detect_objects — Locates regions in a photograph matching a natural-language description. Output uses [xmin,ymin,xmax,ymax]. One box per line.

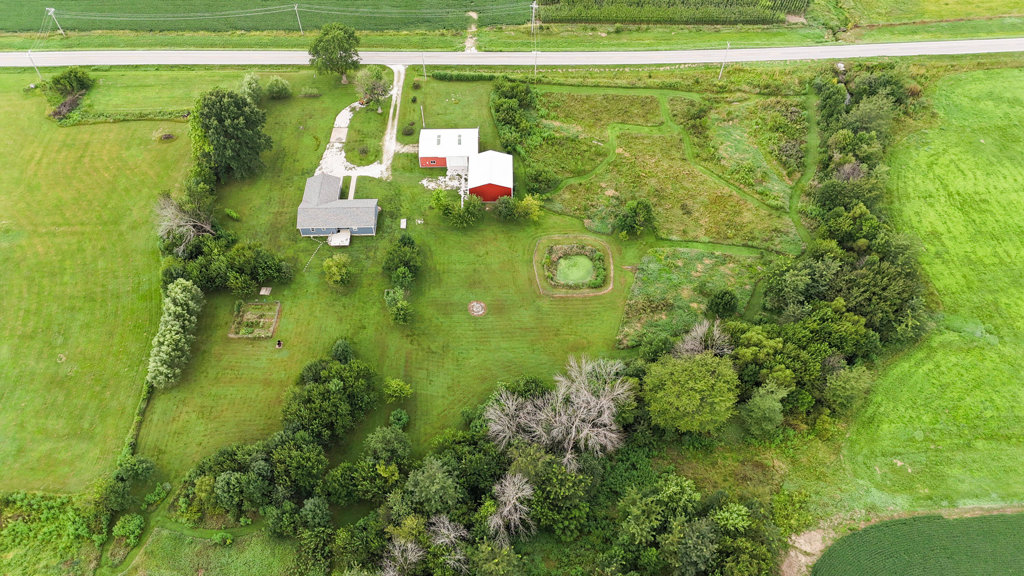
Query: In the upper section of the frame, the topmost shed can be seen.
[418,127,478,167]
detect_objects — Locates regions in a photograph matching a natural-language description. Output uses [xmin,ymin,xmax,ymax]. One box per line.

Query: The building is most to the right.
[467,149,513,202]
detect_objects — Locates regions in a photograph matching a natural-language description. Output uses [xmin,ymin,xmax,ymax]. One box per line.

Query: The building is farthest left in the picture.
[296,171,379,236]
